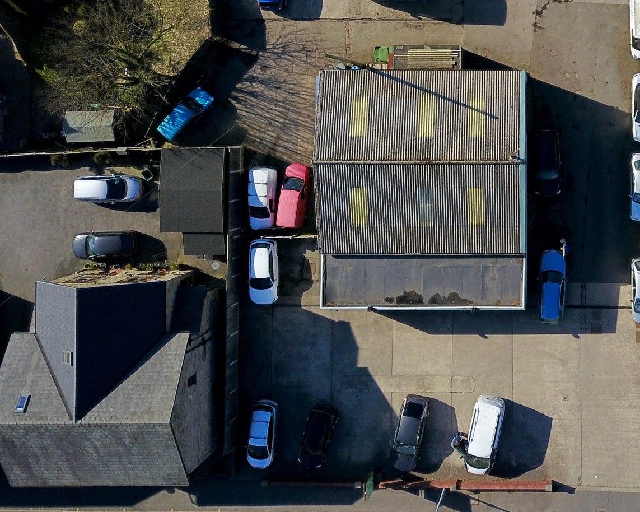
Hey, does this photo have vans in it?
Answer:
Yes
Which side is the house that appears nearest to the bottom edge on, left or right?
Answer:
left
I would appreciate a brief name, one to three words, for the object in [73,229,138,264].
car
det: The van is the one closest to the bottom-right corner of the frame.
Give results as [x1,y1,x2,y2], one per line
[452,393,505,474]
